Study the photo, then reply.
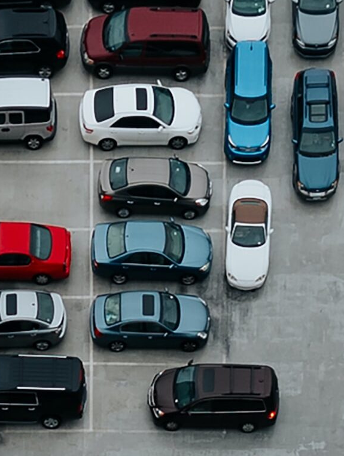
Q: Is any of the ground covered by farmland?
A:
No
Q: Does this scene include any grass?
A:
No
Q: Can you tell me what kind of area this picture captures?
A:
parking lot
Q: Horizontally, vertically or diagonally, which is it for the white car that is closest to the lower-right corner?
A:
vertically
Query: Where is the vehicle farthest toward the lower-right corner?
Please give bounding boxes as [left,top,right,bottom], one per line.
[148,360,280,432]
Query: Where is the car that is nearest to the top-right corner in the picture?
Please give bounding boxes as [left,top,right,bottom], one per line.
[291,0,344,58]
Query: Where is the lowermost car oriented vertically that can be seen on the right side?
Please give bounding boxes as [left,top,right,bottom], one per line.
[223,182,275,289]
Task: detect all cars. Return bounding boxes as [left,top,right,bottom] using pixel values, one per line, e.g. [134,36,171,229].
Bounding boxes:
[91,285,211,352]
[92,216,213,285]
[223,43,277,165]
[0,4,69,77]
[222,0,276,47]
[291,0,344,58]
[80,78,202,150]
[148,360,280,432]
[81,0,211,80]
[291,71,344,199]
[0,74,57,149]
[223,182,275,289]
[99,152,213,218]
[0,353,87,429]
[0,289,66,351]
[0,222,72,283]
